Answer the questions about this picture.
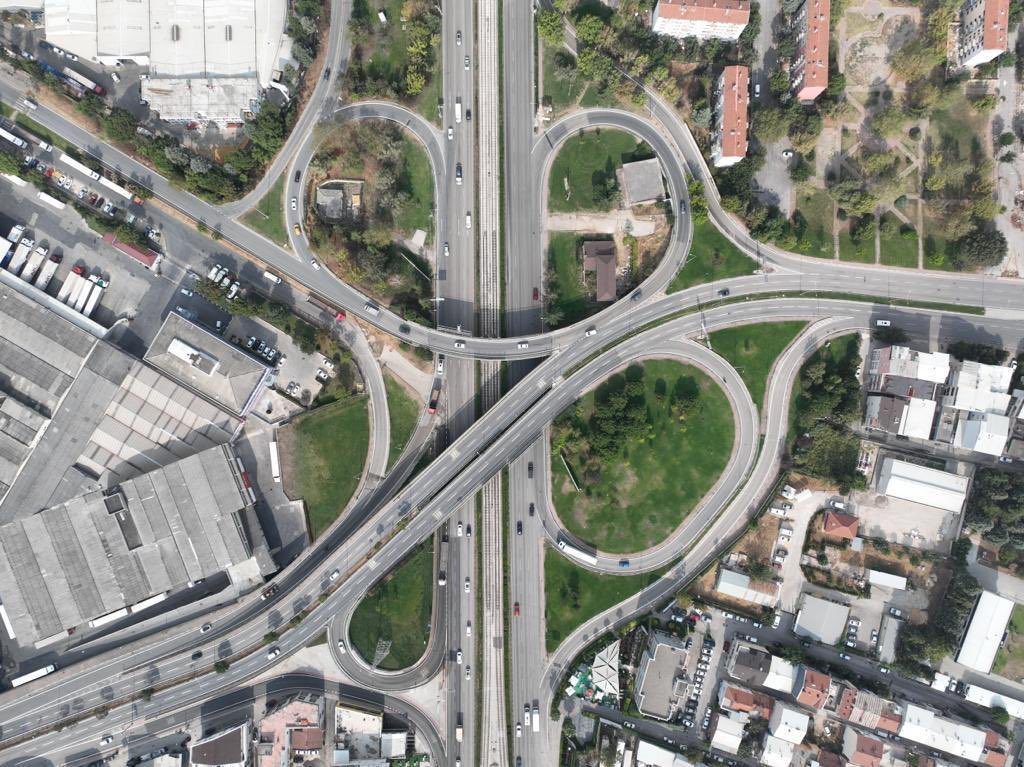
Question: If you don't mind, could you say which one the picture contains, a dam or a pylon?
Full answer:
Of the two, only a pylon appears.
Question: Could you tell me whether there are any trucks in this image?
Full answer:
Yes, a truck appears in the view.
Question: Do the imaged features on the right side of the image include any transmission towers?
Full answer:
No, no transmission tower appears on the right side of the image.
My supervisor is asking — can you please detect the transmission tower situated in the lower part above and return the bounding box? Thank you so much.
[368,634,392,668]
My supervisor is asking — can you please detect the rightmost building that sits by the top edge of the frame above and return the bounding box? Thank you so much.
[963,0,1009,64]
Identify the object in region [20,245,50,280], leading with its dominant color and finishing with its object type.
white truck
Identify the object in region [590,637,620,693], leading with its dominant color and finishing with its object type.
white tent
